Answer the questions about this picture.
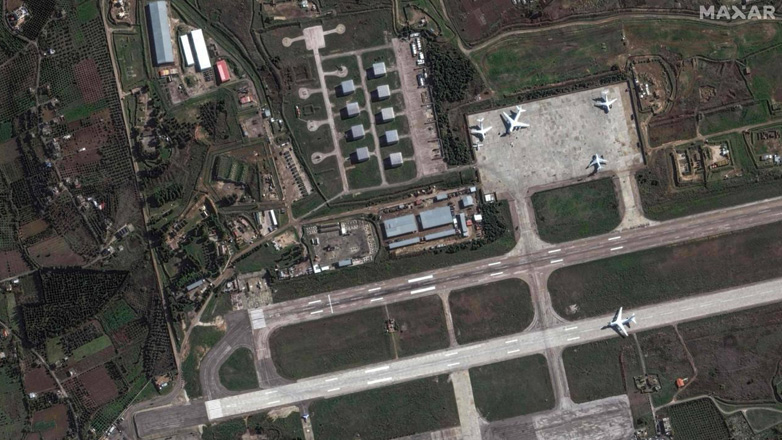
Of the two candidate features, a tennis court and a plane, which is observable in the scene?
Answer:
plane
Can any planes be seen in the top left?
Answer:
No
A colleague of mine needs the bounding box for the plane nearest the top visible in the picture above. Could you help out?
[597,89,618,110]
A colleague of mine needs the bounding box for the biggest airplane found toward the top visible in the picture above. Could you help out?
[503,105,530,132]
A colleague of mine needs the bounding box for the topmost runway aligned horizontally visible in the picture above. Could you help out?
[247,196,782,332]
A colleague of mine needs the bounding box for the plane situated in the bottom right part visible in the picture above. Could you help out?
[608,306,635,335]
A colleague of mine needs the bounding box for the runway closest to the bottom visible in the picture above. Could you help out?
[205,280,782,420]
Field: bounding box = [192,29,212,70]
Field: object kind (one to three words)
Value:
building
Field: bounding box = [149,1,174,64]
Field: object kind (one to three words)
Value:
hangar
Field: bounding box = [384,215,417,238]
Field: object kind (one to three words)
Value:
building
